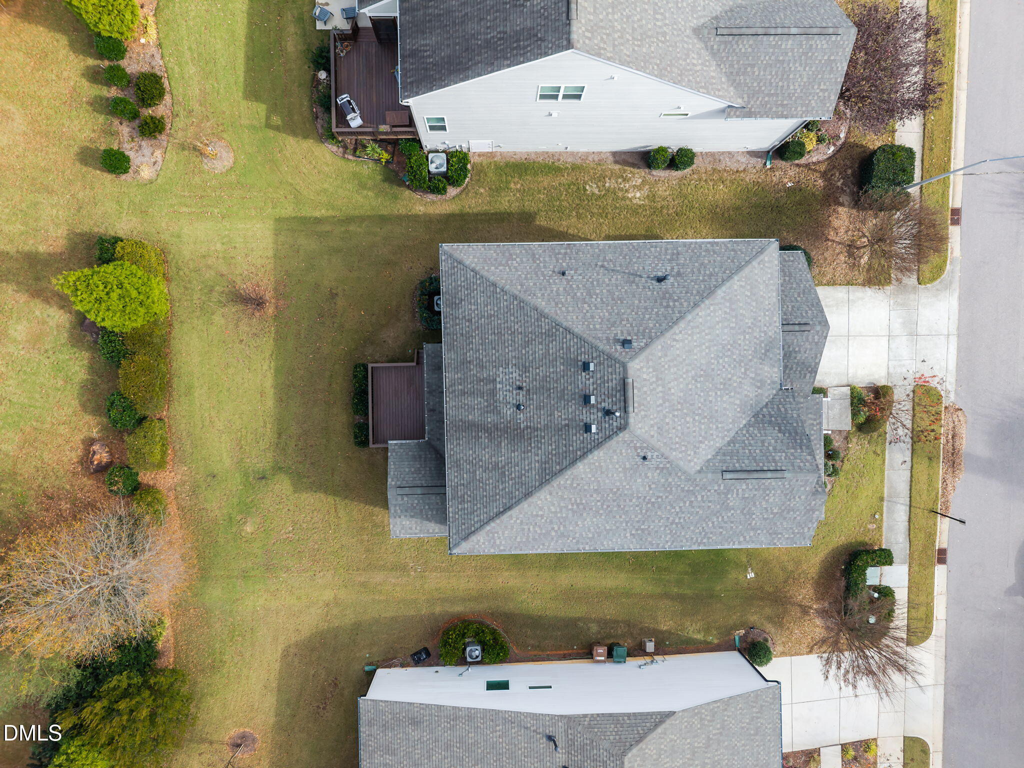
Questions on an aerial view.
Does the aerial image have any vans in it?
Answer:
No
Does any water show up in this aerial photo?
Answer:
No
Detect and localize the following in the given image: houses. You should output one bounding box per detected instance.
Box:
[354,0,855,161]
[388,236,832,558]
[356,644,786,768]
